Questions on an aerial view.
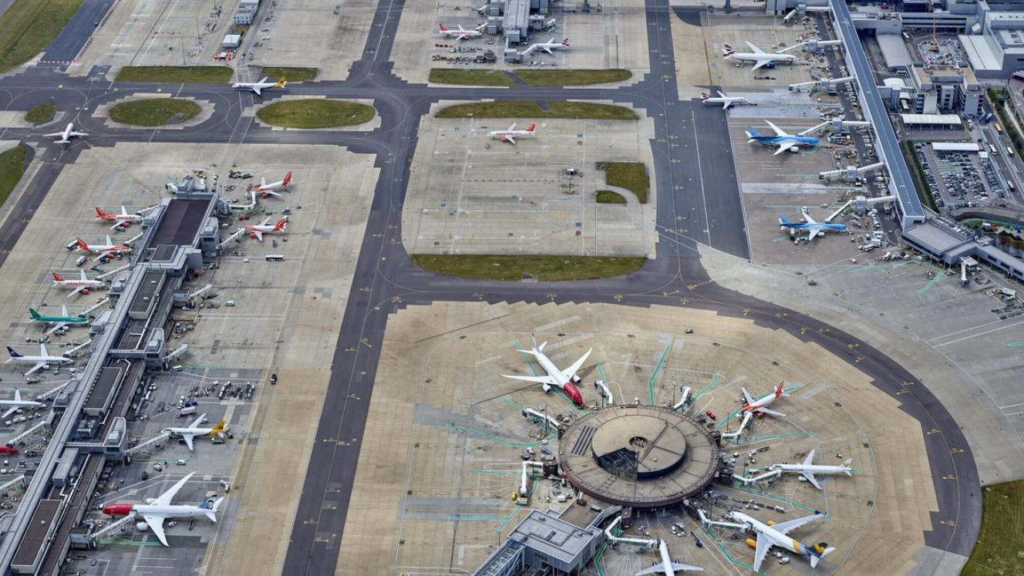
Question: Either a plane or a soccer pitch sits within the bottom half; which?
plane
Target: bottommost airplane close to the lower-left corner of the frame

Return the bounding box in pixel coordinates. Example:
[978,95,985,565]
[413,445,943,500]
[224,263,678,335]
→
[102,469,223,543]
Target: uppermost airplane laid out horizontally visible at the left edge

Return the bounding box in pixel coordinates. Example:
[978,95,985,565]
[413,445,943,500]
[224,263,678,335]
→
[44,123,89,142]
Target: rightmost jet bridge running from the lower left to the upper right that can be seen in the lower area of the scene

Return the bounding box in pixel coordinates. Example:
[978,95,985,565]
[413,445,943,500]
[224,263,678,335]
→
[721,410,753,444]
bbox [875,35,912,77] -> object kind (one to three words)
building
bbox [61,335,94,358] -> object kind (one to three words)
jet bridge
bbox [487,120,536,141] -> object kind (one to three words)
airplane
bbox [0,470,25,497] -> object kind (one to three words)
jet bridge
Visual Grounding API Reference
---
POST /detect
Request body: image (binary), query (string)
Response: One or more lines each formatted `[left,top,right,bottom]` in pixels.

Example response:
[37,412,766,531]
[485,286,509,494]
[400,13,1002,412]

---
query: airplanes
[769,448,852,488]
[739,375,791,415]
[76,231,131,261]
[507,331,594,403]
[722,37,798,67]
[102,469,223,543]
[730,499,843,569]
[0,380,46,420]
[93,204,142,228]
[28,302,88,333]
[701,90,748,109]
[637,548,706,576]
[528,35,567,55]
[779,208,848,240]
[44,123,89,142]
[50,267,103,295]
[487,120,536,141]
[745,116,820,152]
[0,441,20,456]
[232,75,286,93]
[438,23,482,41]
[7,338,71,374]
[172,412,228,450]
[245,169,295,196]
[247,213,291,238]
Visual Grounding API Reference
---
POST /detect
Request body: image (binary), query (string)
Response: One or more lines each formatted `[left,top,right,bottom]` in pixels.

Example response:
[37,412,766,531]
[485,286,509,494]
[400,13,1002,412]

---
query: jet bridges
[603,513,662,551]
[732,468,784,489]
[823,193,895,224]
[542,18,558,33]
[0,470,25,497]
[93,261,130,282]
[34,376,73,401]
[216,227,249,251]
[593,379,616,408]
[77,295,111,317]
[816,159,883,182]
[61,335,94,358]
[696,505,753,535]
[189,282,216,304]
[786,73,853,92]
[774,39,840,53]
[796,118,868,136]
[229,189,257,213]
[163,183,180,196]
[3,416,46,447]
[160,341,189,367]
[121,429,175,460]
[522,405,563,431]
[721,410,753,444]
[123,230,142,248]
[960,258,968,287]
[91,510,140,543]
[671,384,690,413]
[520,458,546,496]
